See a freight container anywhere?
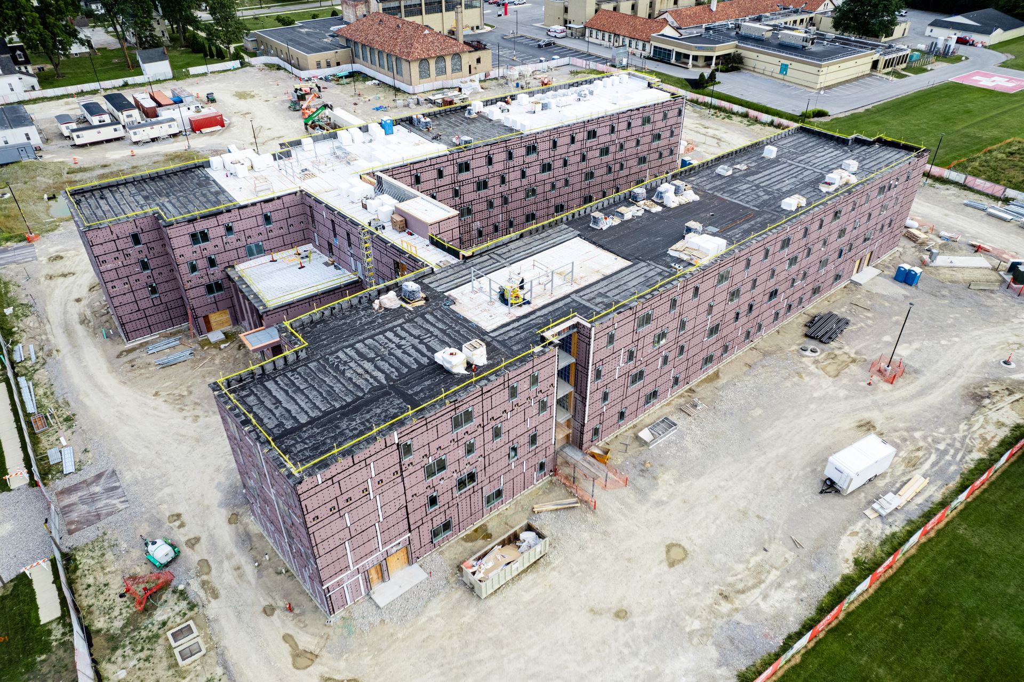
Yes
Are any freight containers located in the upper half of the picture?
Yes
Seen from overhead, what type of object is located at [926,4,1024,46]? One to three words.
building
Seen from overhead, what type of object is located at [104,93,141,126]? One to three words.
trailer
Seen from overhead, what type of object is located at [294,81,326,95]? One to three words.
work vehicle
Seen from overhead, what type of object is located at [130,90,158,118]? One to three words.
shipping container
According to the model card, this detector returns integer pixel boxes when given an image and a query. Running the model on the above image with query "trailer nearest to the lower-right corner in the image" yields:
[818,432,895,495]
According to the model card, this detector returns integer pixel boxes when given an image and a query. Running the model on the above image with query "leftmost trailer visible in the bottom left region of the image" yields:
[136,530,184,565]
